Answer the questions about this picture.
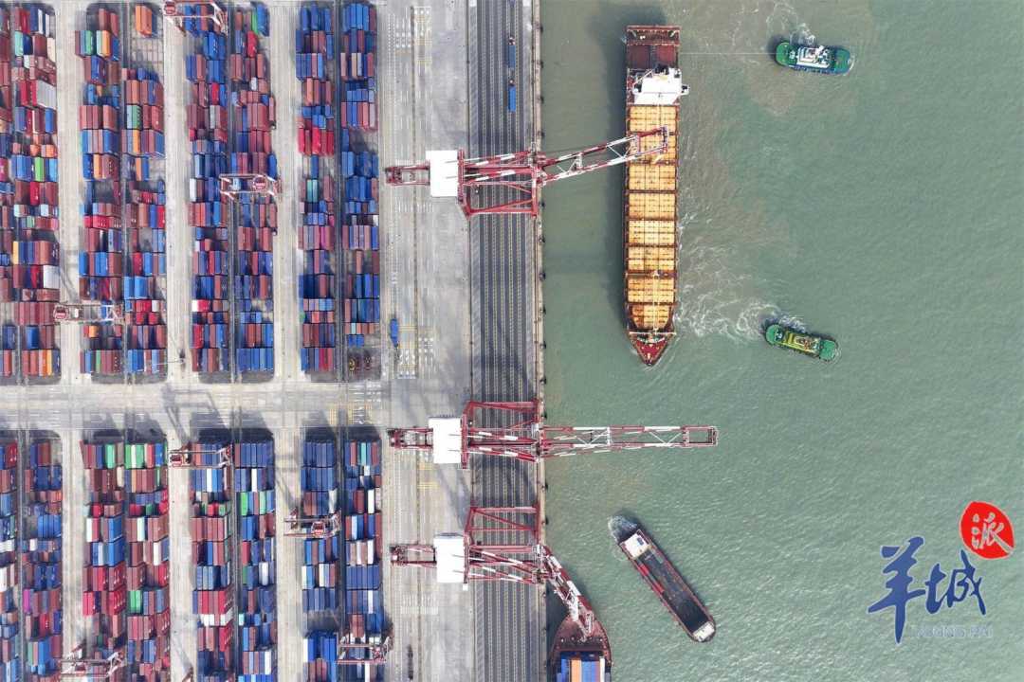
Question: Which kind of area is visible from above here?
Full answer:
What you see here is a port.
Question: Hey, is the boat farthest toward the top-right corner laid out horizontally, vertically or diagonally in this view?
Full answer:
What the image shows is the boat farthest toward the top-right corner lying horizontally.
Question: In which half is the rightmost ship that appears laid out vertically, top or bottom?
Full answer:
You can find the rightmost ship that appears laid out vertically in the top half.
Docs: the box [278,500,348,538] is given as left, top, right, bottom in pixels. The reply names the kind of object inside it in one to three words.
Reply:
crane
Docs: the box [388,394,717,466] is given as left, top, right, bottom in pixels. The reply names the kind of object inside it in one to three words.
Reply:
container crane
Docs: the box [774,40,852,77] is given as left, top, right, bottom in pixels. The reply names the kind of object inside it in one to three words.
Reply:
boat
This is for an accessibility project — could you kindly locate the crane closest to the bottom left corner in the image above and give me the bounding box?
[51,630,132,676]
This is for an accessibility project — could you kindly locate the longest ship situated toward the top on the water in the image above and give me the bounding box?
[621,25,687,366]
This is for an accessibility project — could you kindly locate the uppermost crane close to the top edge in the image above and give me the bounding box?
[160,1,236,47]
